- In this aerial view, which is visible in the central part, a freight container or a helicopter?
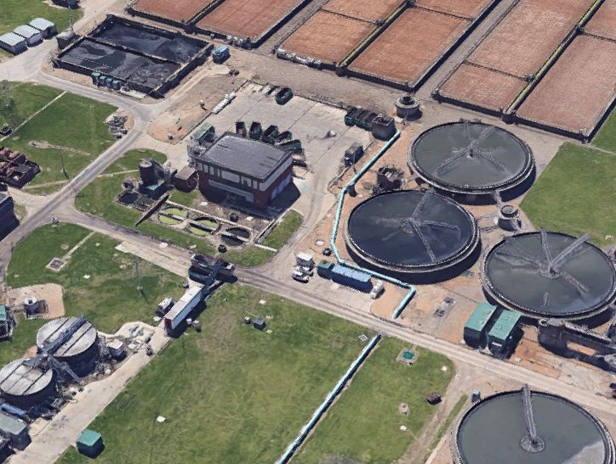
freight container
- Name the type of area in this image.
industrial area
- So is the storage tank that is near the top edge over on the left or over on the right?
left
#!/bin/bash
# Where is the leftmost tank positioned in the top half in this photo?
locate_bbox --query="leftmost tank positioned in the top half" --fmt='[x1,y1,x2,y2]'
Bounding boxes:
[0,152,47,193]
